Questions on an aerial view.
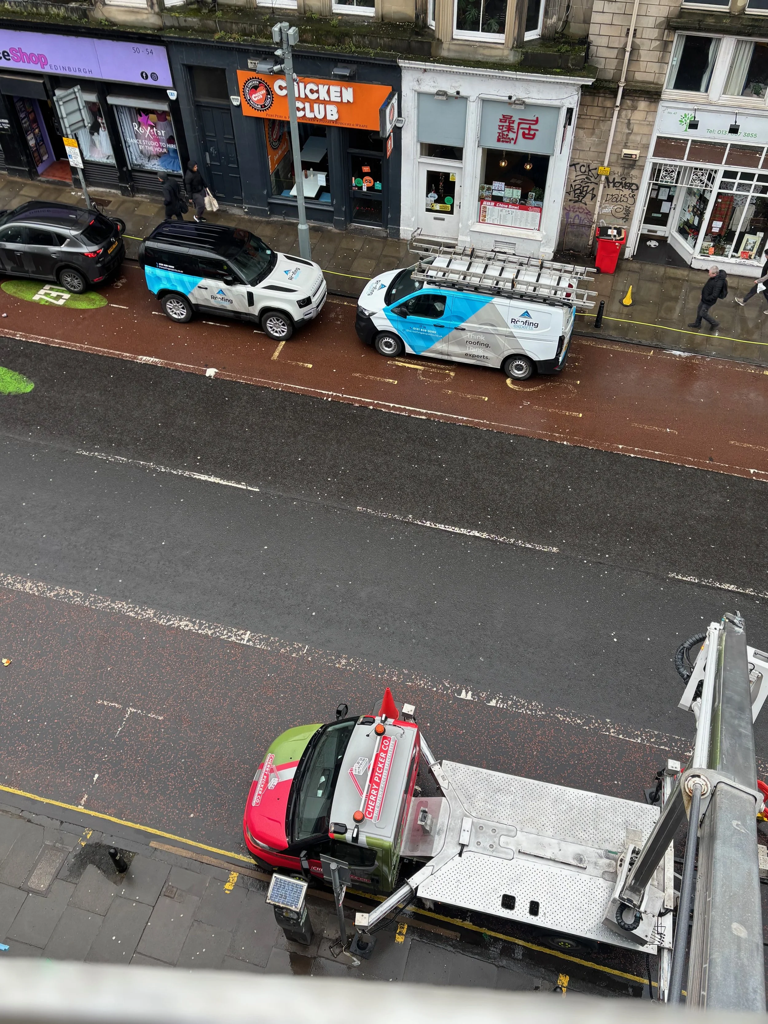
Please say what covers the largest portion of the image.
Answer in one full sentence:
The scene is dominated by paved ground.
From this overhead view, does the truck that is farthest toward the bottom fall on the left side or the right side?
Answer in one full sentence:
The truck that is farthest toward the bottom sits on the right side.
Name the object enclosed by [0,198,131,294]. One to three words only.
car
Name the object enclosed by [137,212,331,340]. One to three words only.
car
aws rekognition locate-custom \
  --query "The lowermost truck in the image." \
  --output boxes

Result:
[245,609,768,1010]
